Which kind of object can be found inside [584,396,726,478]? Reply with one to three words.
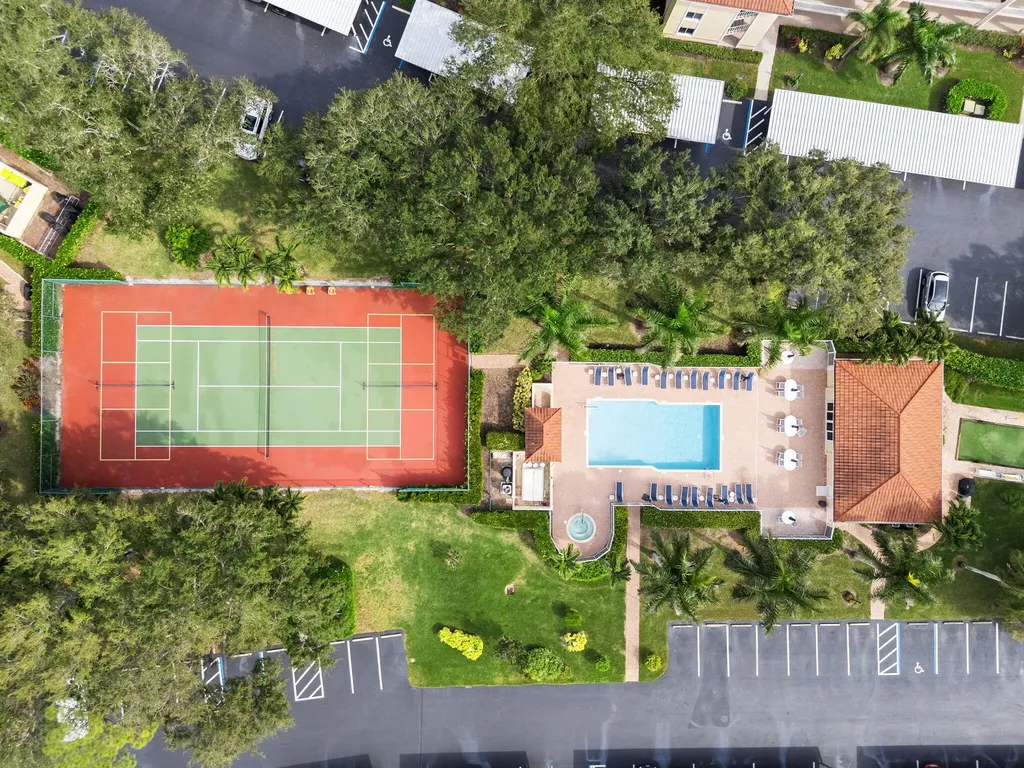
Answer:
swimming pool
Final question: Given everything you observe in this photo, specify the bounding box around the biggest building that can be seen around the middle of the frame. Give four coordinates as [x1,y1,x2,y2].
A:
[524,407,563,463]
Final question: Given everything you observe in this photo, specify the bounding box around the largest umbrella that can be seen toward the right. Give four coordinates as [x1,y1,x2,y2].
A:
[947,477,975,496]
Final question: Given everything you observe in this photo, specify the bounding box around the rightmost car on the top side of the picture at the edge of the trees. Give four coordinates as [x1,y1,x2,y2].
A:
[916,270,949,323]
